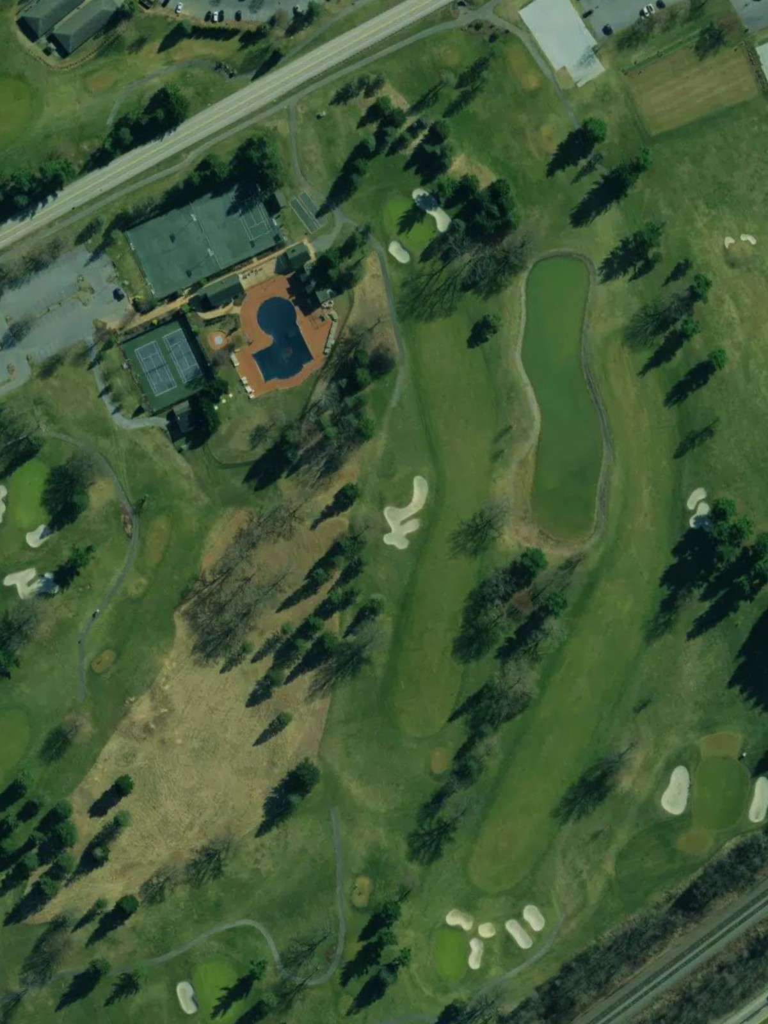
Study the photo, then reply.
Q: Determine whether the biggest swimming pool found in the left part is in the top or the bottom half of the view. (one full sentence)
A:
The biggest swimming pool found in the left part sits in the top half of the picture.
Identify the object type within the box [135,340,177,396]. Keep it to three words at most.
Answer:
tennis court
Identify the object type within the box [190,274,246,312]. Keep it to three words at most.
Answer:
building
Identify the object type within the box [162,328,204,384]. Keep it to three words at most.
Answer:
tennis court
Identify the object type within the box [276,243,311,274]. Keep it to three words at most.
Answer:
building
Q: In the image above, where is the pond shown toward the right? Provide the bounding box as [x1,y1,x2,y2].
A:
[522,255,605,543]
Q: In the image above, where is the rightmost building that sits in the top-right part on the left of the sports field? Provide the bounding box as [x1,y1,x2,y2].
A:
[519,0,606,87]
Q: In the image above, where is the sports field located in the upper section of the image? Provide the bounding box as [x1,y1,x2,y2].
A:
[627,46,760,138]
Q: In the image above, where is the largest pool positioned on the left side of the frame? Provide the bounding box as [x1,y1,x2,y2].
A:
[235,272,337,398]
